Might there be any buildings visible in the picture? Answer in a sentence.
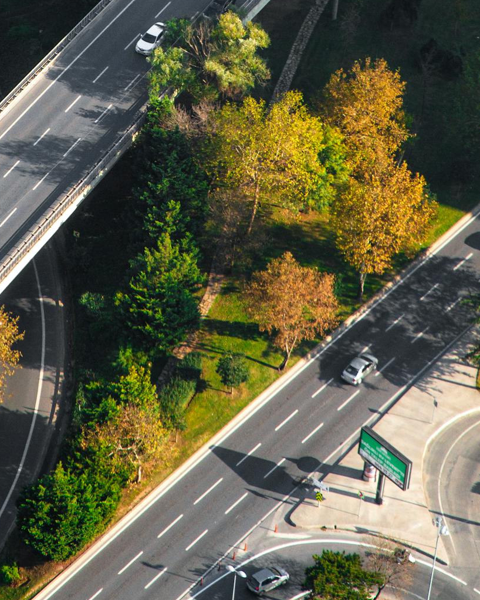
No, there's no building here.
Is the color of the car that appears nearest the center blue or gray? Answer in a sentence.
From above, the car that appears nearest the center appears gray.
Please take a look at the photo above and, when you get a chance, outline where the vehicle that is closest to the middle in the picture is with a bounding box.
[340,353,381,386]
